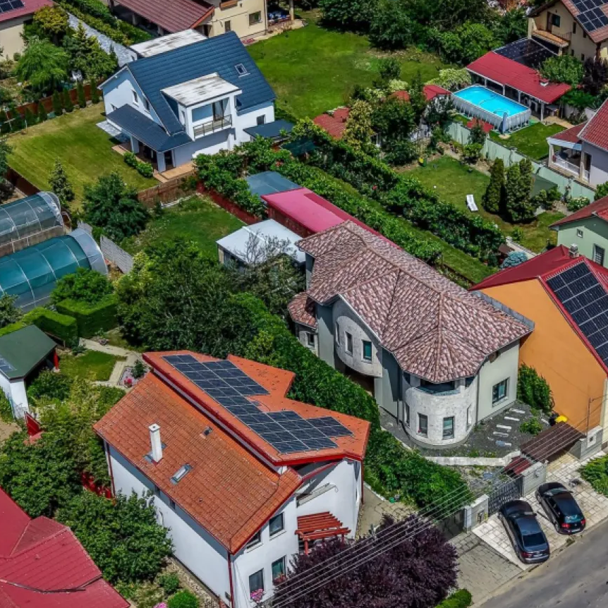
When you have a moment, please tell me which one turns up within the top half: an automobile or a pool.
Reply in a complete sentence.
You can see a pool within the top half.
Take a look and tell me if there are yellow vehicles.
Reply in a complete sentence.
No, there's no yellow vehicle here.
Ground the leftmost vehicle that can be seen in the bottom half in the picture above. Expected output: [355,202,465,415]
[492,504,547,563]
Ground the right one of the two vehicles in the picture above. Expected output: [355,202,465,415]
[535,483,585,534]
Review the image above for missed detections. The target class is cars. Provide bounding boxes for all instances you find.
[535,483,585,534]
[492,504,547,563]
